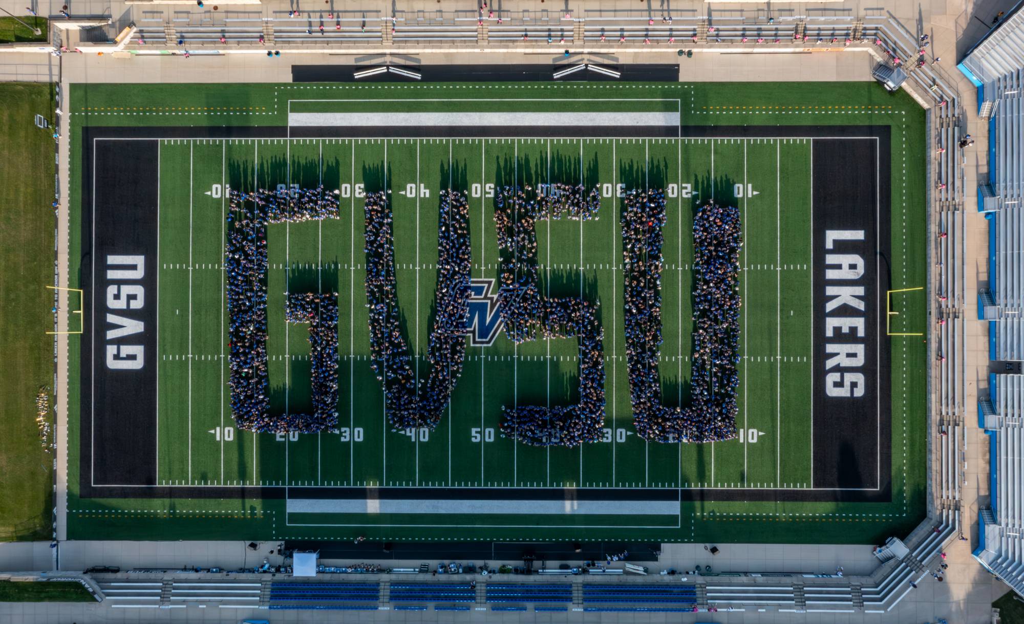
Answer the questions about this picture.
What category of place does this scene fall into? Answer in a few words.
sports ground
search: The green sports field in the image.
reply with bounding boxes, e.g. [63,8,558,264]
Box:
[66,81,927,545]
